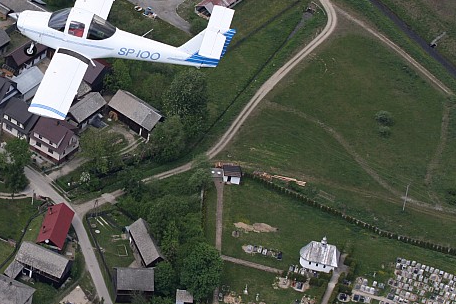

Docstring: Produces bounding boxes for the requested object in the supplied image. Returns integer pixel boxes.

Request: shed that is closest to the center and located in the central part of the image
[222,166,240,184]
